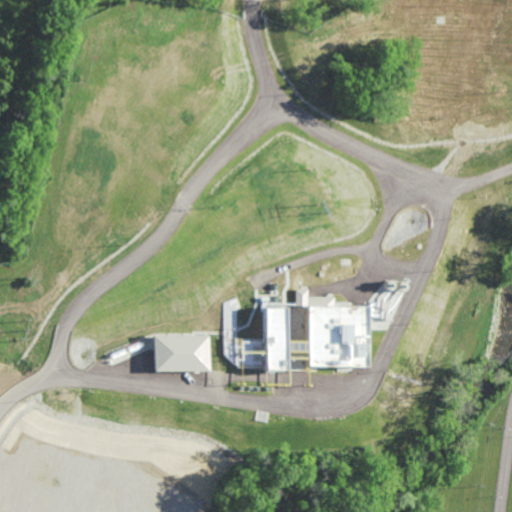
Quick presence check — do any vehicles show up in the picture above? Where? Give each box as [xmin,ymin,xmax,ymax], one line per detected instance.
[184,374,194,385]
[102,352,132,366]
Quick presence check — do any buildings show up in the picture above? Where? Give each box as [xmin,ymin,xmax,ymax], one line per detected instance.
[154,335,211,374]
[258,288,372,373]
